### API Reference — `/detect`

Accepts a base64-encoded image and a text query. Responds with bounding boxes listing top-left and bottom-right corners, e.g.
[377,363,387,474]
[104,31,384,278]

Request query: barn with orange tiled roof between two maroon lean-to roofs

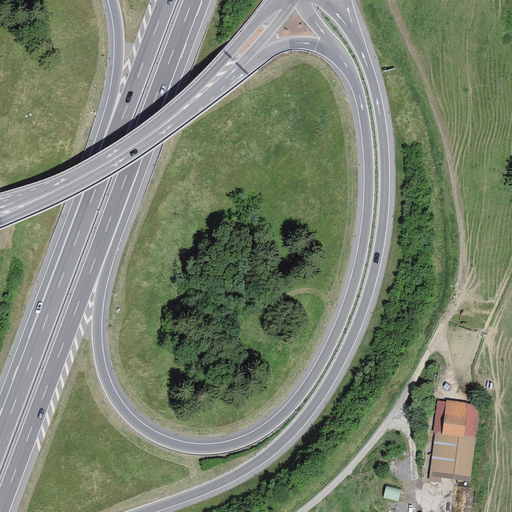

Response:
[434,400,478,437]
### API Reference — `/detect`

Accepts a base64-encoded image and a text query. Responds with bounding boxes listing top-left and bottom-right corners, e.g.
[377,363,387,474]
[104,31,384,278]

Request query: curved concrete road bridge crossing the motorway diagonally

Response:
[0,51,249,228]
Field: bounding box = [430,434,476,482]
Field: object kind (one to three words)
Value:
shed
